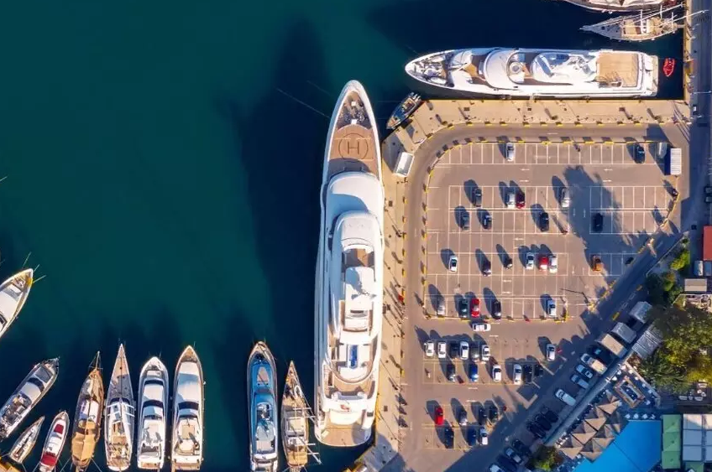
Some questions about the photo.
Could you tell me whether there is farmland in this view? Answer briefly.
No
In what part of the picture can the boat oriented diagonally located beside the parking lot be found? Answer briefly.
top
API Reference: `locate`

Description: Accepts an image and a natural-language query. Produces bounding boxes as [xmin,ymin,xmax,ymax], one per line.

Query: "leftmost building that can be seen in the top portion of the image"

[390,151,413,177]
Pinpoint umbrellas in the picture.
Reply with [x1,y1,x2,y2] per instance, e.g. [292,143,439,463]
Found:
[662,451,681,468]
[557,433,582,458]
[662,432,681,451]
[606,408,631,432]
[570,418,596,444]
[584,404,609,428]
[593,422,618,447]
[597,391,623,414]
[580,437,605,461]
[662,414,681,432]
